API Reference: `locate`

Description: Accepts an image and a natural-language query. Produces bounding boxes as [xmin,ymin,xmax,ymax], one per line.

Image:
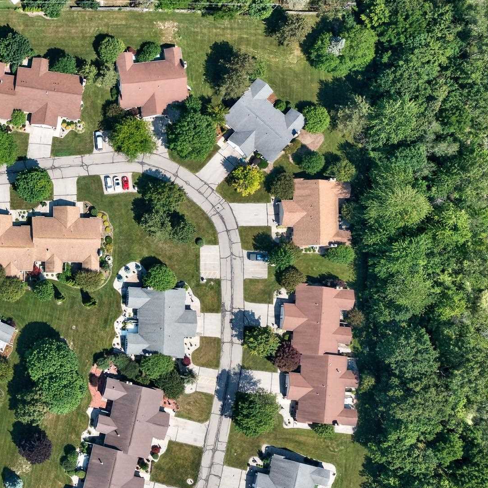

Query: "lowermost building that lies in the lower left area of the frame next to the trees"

[83,378,171,488]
